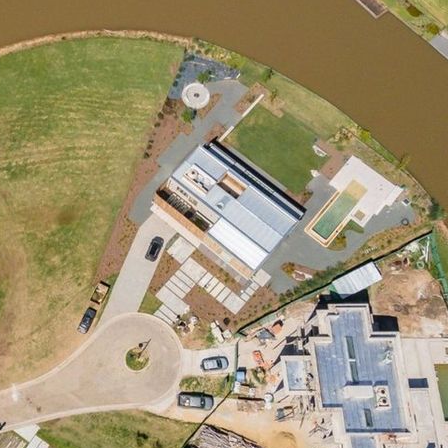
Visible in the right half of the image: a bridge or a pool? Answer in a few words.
pool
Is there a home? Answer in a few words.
Yes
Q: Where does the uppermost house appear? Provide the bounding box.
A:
[150,136,309,275]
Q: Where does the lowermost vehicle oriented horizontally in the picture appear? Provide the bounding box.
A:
[176,394,213,412]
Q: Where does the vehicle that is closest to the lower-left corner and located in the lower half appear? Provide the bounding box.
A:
[76,305,98,336]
